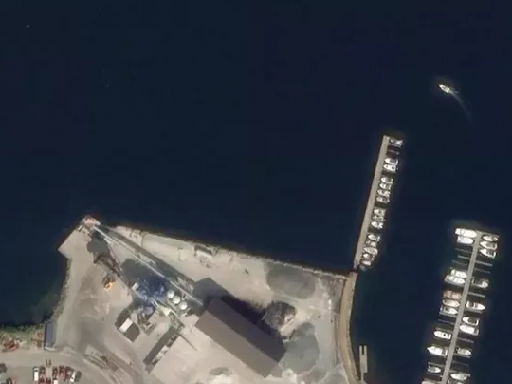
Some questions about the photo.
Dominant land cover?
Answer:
water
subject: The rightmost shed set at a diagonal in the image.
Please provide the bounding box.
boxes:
[195,296,288,377]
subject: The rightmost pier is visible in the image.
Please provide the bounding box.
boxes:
[423,230,500,384]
